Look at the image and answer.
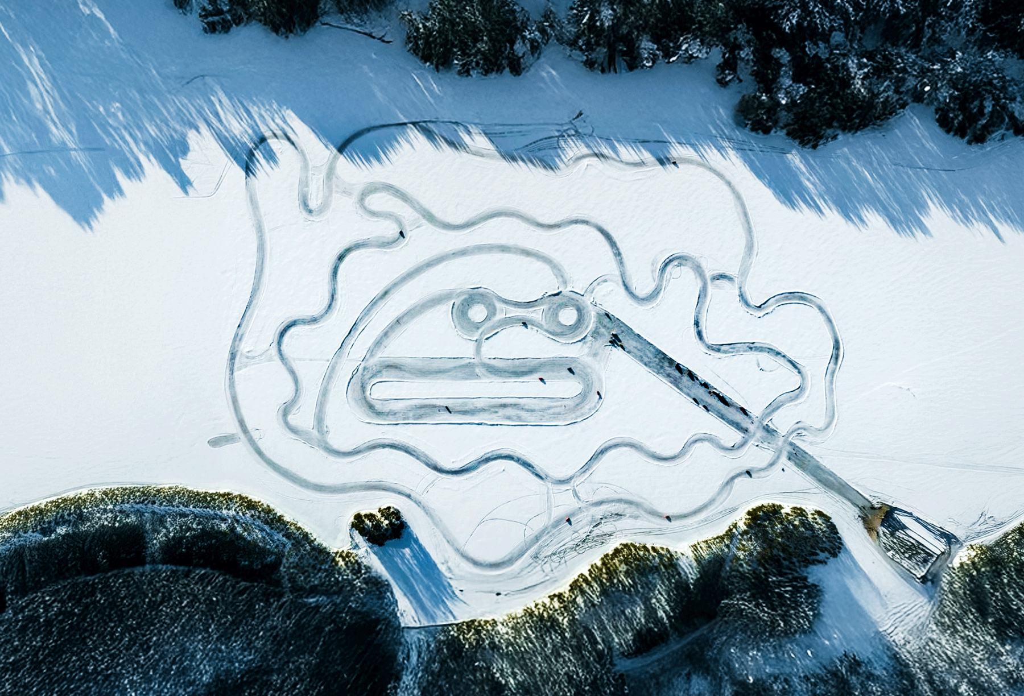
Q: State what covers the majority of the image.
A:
water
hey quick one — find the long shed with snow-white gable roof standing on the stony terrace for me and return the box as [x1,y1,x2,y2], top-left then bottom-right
[894,515,946,556]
